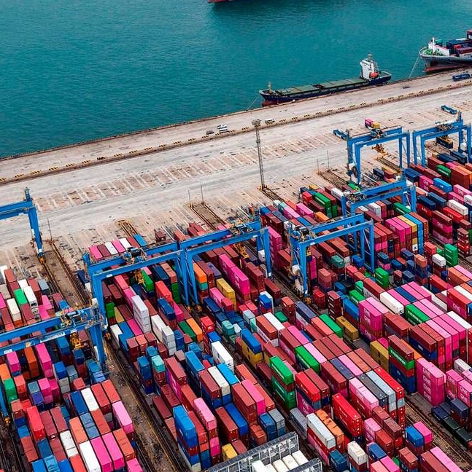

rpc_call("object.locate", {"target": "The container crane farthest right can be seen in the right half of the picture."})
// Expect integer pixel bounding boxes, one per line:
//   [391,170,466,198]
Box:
[406,114,472,175]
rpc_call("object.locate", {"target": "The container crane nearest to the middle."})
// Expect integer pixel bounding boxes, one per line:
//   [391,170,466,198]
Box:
[173,215,279,323]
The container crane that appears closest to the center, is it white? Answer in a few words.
No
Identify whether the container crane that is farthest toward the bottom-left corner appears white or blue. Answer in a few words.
blue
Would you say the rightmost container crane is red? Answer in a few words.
No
